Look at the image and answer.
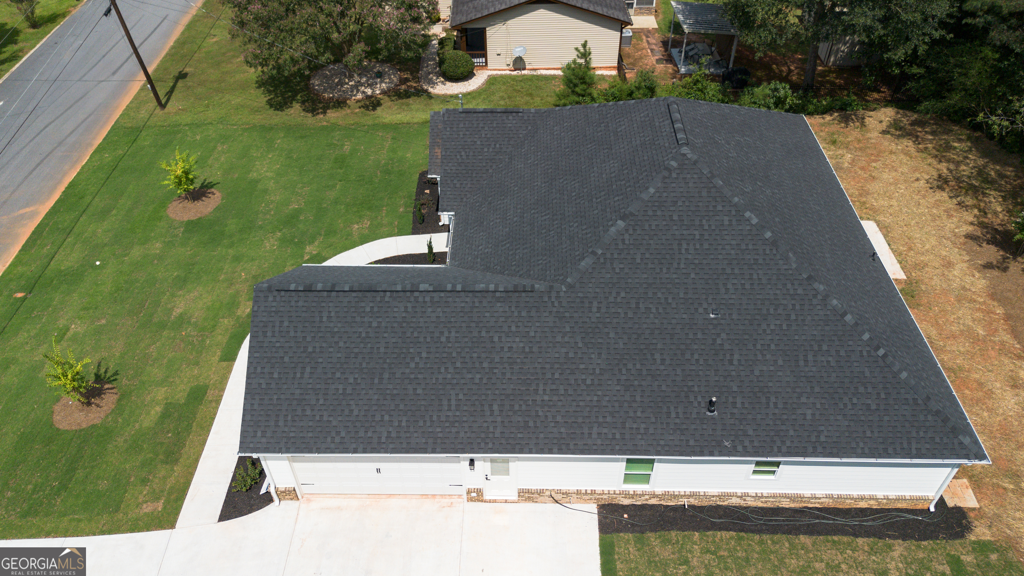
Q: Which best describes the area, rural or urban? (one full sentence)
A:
The area is urban.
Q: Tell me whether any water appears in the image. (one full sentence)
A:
No, there is no water in the image.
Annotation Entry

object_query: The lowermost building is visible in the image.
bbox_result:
[237,97,990,516]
